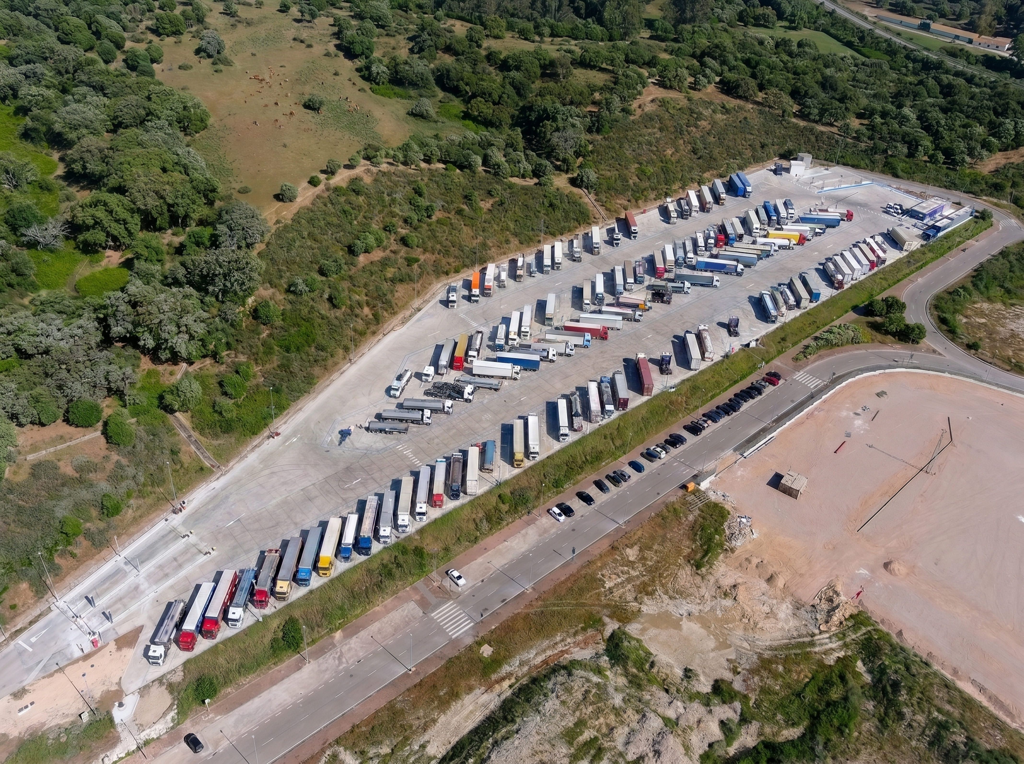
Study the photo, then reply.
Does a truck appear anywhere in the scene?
Yes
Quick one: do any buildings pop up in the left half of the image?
No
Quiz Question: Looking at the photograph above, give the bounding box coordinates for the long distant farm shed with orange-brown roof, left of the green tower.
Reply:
[877,11,922,29]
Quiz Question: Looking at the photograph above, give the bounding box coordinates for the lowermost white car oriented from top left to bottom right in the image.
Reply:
[449,572,466,587]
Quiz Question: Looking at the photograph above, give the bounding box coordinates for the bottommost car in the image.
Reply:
[185,732,202,754]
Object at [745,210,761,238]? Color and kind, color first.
white vehicle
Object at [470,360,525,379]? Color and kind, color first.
white vehicle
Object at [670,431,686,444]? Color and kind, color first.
black vehicle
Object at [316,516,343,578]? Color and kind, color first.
white truck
